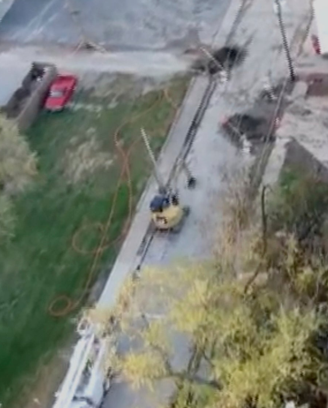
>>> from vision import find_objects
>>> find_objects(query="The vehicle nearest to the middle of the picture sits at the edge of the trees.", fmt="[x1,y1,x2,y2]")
[140,152,213,241]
